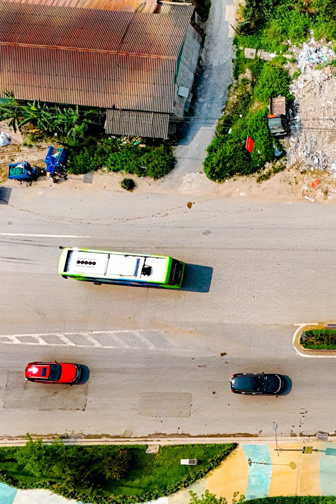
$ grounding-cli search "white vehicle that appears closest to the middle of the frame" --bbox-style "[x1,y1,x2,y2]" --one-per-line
[55,247,189,293]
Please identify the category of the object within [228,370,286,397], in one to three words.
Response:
car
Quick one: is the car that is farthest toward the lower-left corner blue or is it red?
red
